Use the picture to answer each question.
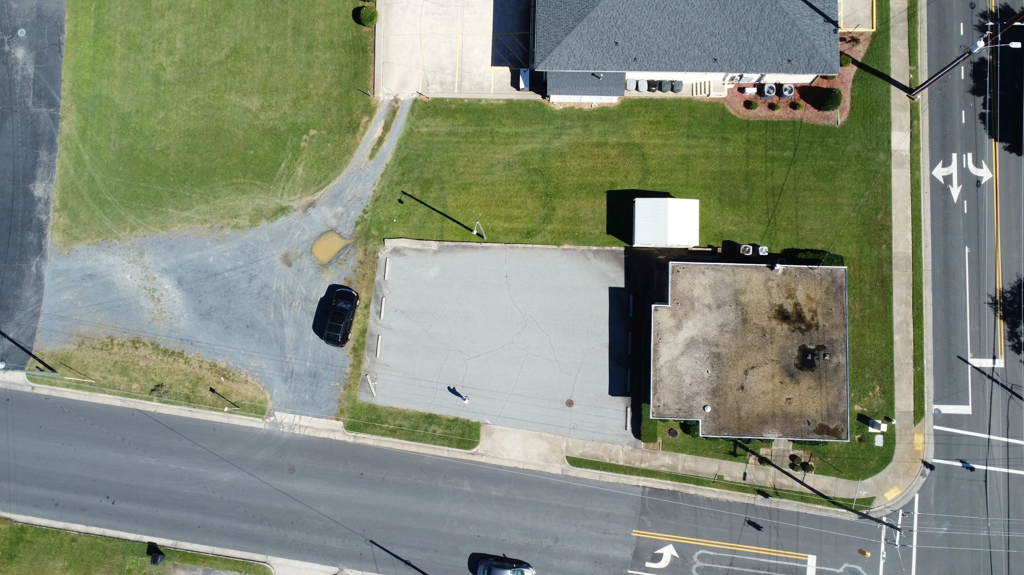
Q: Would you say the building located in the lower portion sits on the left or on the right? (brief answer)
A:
right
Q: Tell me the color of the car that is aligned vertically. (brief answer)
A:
black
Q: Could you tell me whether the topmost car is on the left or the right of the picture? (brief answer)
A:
left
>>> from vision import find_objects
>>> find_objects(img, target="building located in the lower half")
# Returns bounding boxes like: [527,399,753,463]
[648,262,849,441]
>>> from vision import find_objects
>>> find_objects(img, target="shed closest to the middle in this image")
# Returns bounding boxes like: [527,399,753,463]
[633,196,699,248]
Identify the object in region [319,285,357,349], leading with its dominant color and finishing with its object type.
black car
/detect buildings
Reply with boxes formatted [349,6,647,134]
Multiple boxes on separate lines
[648,262,849,441]
[633,196,699,248]
[534,0,841,84]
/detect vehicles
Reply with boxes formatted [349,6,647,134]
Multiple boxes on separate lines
[476,558,538,575]
[319,285,357,349]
